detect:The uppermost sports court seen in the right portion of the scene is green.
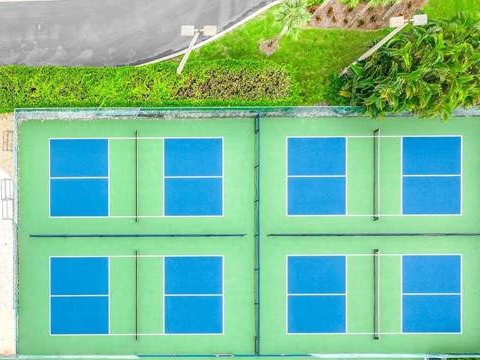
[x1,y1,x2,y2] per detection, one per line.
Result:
[255,117,480,236]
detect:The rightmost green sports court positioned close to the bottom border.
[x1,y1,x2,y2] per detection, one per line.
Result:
[255,236,480,355]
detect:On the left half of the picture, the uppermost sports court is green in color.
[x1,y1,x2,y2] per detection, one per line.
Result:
[18,117,255,236]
